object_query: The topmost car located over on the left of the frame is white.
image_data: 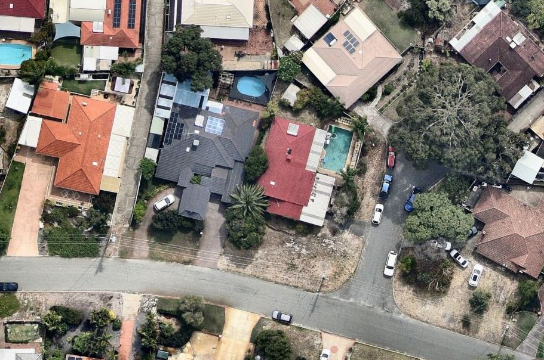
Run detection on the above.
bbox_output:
[151,193,176,211]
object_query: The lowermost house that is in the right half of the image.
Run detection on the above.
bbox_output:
[472,183,544,275]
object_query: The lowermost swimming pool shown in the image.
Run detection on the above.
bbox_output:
[321,124,355,172]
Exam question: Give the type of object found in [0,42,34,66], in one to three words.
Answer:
swimming pool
